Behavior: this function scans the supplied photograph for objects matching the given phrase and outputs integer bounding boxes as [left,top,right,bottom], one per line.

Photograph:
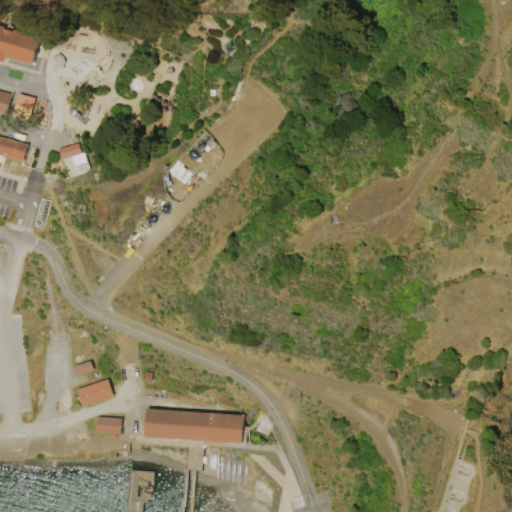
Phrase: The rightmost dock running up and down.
[182,446,204,512]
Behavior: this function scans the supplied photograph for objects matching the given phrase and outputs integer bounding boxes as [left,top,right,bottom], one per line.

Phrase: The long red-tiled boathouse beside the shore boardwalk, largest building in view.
[146,408,245,442]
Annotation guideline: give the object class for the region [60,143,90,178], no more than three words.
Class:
house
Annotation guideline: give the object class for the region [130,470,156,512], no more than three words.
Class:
pier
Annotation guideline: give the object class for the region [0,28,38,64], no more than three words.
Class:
building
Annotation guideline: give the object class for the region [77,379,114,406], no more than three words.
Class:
house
